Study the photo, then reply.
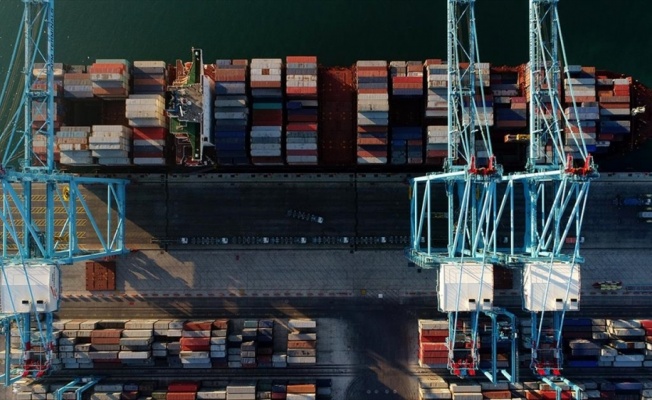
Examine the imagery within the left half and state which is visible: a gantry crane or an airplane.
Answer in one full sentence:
What appears within the left half is a gantry crane.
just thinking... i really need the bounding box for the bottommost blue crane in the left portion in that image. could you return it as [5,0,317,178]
[53,370,104,400]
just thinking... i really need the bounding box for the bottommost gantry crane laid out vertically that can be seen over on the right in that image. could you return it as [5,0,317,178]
[478,299,518,385]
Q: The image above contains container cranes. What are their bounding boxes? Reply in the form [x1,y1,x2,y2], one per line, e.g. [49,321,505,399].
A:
[533,373,582,400]
[475,0,604,375]
[478,299,518,385]
[0,0,135,375]
[53,370,104,400]
[401,0,504,375]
